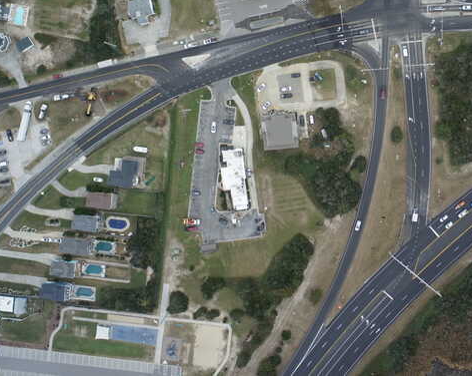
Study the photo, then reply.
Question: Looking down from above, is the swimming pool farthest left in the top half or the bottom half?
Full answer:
The swimming pool farthest left sits in the top half of the picture.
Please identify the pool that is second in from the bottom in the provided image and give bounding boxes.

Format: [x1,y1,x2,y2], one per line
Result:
[81,262,107,278]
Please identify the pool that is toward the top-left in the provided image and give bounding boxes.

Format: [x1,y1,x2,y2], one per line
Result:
[9,4,28,26]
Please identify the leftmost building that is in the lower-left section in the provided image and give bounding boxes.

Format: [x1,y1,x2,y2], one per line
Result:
[0,295,29,315]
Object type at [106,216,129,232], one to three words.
swimming pool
